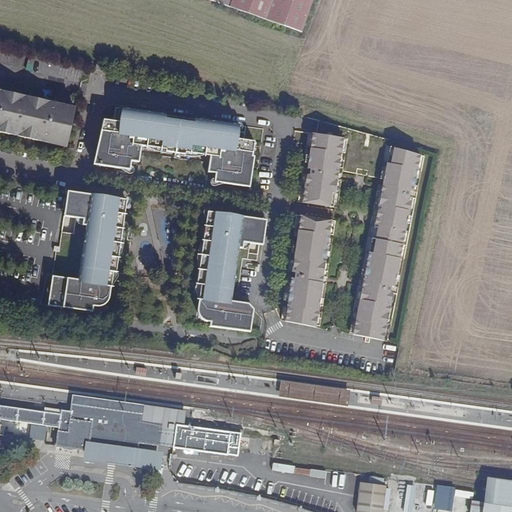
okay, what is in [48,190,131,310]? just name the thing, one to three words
building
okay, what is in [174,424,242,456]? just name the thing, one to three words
building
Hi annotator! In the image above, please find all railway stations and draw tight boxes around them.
[30,395,187,470]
